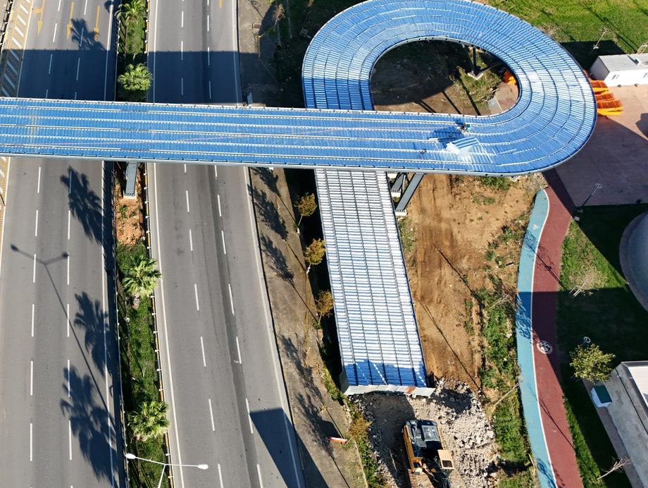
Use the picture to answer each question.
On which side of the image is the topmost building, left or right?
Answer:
right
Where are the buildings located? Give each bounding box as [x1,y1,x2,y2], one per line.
[592,53,648,86]
[606,213,648,308]
[594,360,648,481]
